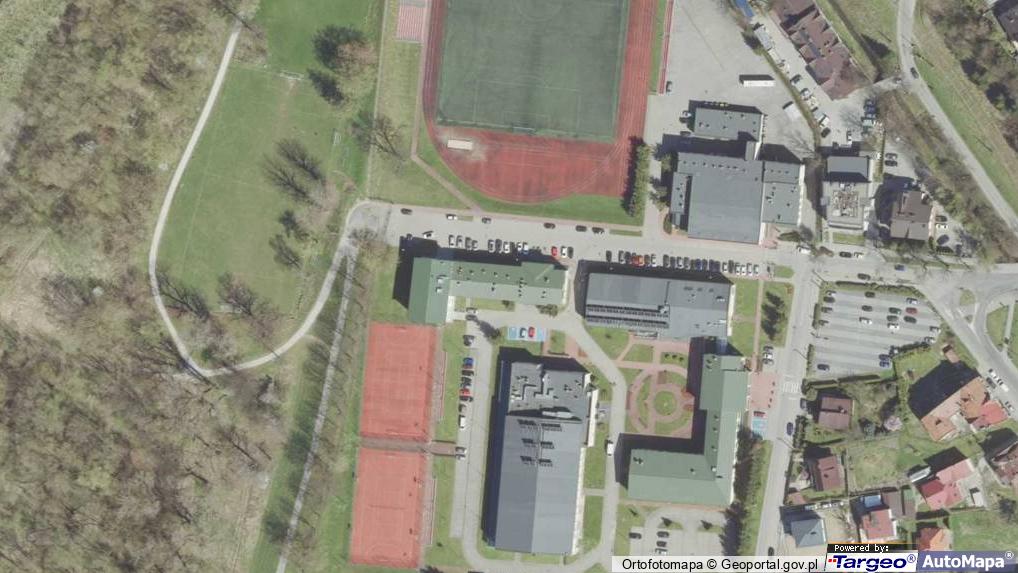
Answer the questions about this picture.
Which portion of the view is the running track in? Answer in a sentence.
The running track is in the top part of the image.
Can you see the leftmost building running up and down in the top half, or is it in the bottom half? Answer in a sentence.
The leftmost building running up and down sits in the bottom half of the picture.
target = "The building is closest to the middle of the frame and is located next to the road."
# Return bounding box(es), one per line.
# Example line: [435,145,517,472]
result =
[409,258,570,324]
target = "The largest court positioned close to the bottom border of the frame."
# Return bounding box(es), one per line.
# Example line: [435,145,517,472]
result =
[351,449,424,568]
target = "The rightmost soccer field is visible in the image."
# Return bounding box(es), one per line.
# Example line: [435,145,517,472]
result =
[436,0,627,142]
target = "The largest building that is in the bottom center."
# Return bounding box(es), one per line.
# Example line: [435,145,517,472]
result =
[495,362,594,554]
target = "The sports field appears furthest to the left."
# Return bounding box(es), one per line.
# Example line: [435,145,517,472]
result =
[176,62,345,316]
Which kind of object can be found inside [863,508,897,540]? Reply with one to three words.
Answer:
house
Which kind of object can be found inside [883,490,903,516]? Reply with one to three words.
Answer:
shed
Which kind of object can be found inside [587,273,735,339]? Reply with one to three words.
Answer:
building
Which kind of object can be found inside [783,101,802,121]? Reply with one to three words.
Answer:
vehicle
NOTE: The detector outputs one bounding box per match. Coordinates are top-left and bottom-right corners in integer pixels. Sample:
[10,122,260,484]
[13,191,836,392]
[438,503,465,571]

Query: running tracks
[422,0,657,204]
